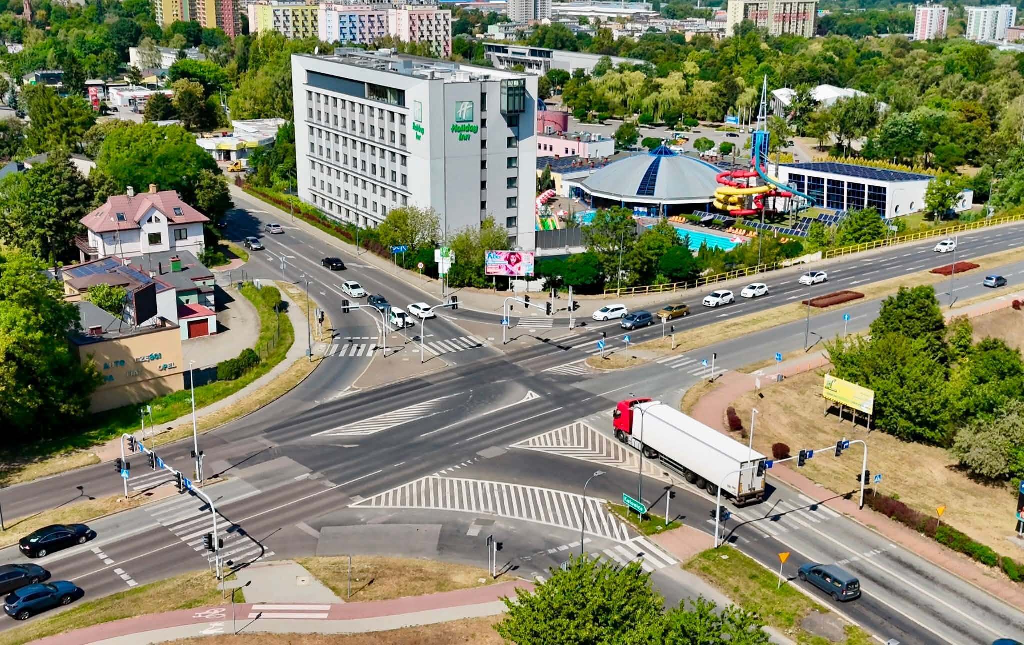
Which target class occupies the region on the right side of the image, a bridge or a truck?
truck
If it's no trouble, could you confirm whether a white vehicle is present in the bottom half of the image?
Yes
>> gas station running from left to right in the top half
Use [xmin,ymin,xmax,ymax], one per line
[110,91,176,113]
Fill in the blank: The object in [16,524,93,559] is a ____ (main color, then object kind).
black car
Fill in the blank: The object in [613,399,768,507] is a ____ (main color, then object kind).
white truck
